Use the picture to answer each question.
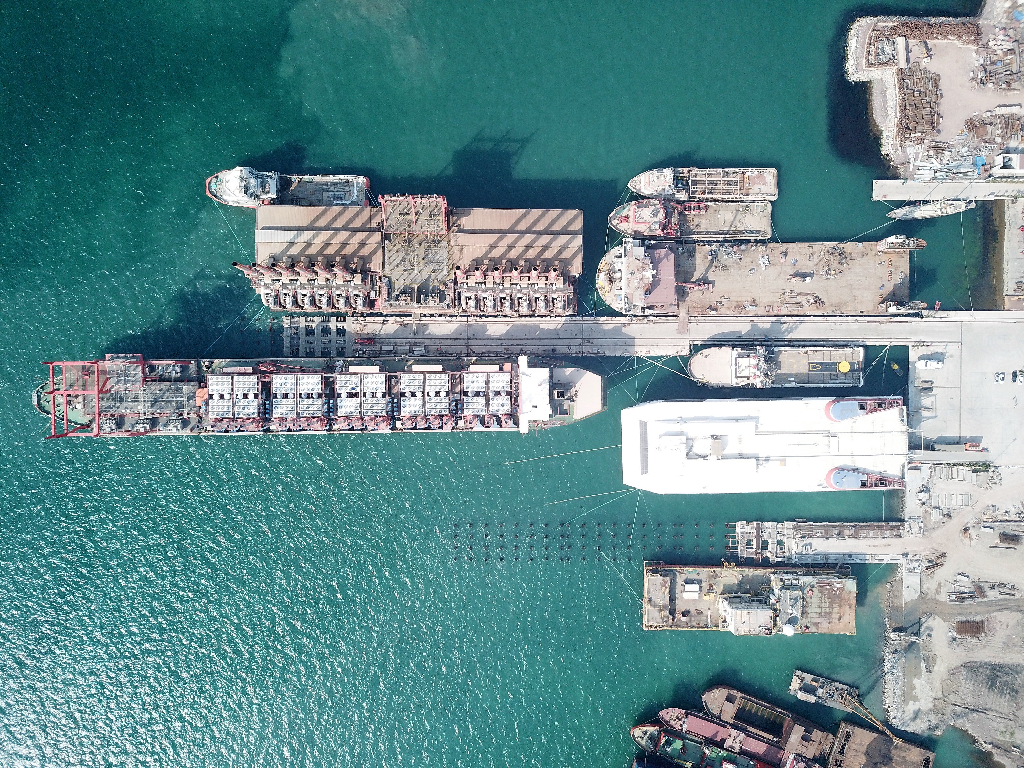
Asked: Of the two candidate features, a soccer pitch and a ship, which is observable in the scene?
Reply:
ship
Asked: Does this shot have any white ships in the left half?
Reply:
Yes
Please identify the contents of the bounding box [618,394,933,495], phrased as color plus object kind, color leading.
white ship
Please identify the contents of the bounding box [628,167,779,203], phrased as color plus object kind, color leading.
white vessel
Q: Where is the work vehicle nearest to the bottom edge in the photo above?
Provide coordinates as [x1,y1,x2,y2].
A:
[888,630,923,643]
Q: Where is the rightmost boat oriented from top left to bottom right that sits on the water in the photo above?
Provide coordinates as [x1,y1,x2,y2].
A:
[891,362,904,377]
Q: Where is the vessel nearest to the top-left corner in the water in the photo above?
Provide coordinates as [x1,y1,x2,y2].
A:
[205,167,372,210]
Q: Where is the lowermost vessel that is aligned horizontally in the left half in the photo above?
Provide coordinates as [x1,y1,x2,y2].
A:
[32,353,608,437]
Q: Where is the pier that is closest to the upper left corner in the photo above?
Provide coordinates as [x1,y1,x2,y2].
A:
[270,317,353,357]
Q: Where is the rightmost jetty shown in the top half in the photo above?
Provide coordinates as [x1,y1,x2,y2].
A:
[871,176,1024,201]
